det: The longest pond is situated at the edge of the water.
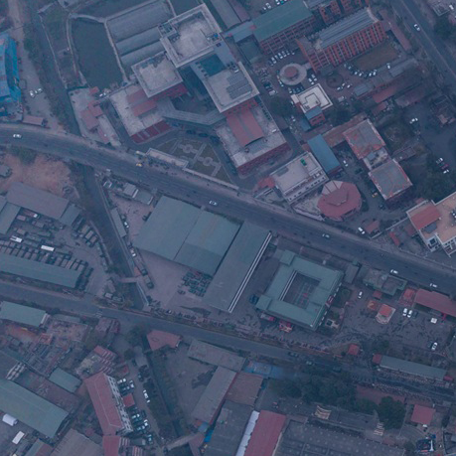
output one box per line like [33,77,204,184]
[68,10,125,91]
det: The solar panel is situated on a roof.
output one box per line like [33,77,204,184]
[227,73,253,99]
